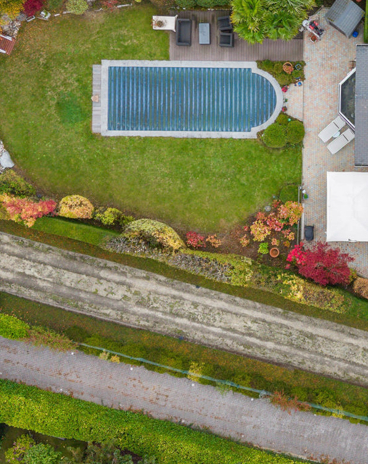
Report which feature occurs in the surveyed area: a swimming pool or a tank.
swimming pool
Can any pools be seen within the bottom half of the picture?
No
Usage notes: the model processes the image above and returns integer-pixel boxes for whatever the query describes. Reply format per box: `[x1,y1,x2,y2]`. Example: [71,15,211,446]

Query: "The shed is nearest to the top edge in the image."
[326,0,365,37]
